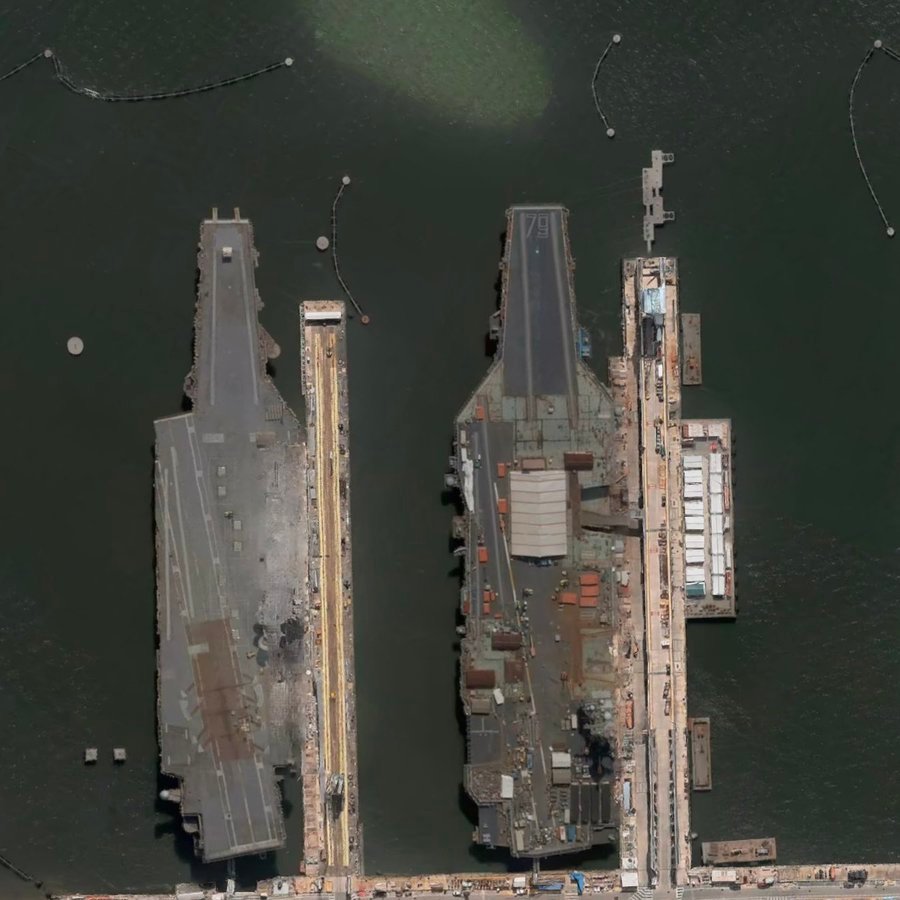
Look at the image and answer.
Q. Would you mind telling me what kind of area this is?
port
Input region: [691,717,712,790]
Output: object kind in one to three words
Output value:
ship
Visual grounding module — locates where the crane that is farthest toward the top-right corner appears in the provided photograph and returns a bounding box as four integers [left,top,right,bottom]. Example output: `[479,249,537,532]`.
[642,275,666,316]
